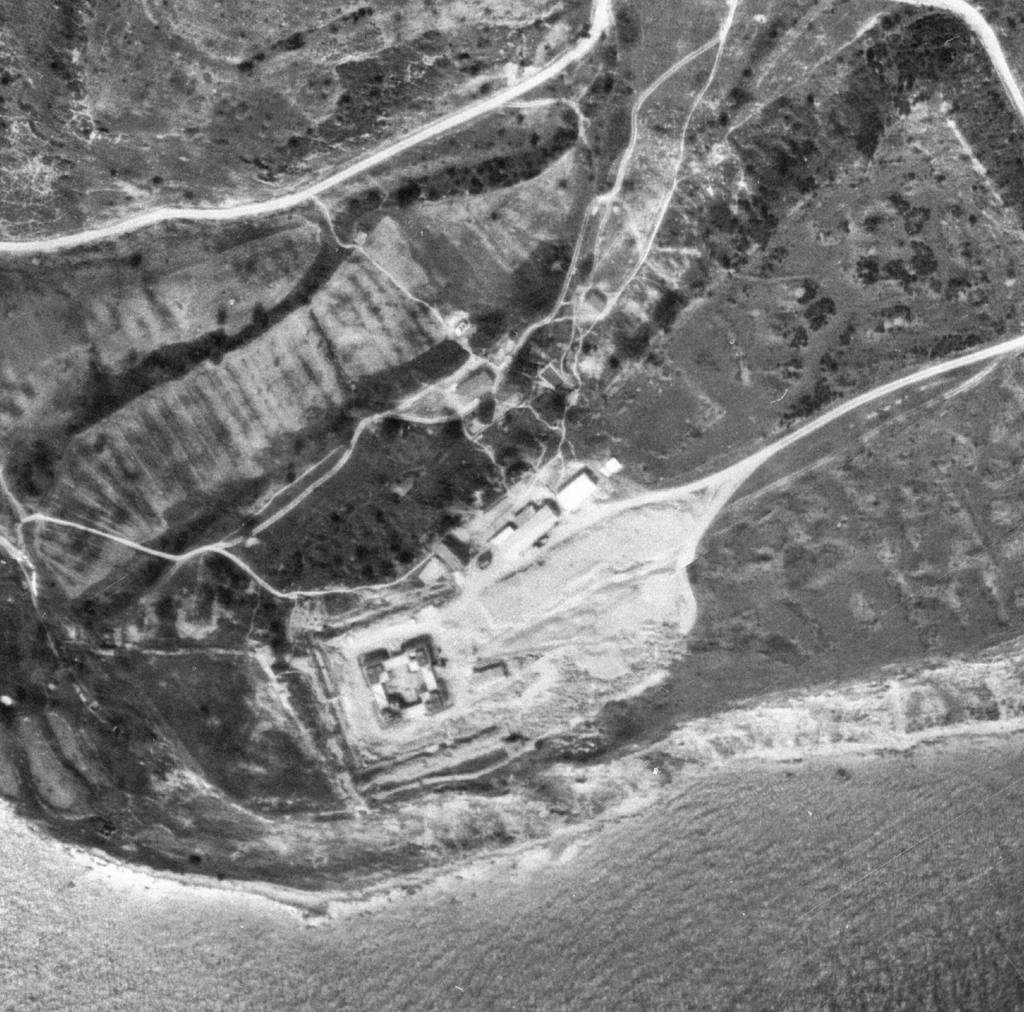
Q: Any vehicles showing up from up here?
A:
No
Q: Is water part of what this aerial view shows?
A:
Yes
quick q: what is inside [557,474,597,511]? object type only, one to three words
barn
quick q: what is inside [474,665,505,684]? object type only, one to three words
house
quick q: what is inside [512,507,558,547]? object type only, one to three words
shed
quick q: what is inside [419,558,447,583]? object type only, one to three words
house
